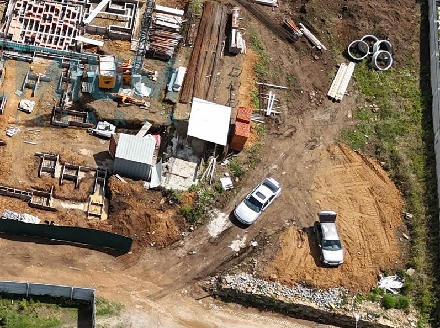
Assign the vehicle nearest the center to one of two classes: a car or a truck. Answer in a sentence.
The vehicle nearest the center in the image is a car.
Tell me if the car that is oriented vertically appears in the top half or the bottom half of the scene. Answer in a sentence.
The car that is oriented vertically is in the bottom half of the image.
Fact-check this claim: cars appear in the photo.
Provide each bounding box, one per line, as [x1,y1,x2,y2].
[232,174,285,229]
[316,207,348,268]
